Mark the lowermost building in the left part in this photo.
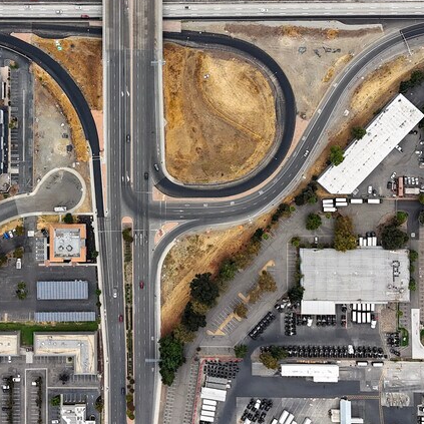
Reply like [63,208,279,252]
[61,401,95,424]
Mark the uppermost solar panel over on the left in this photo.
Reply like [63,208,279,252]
[37,281,88,300]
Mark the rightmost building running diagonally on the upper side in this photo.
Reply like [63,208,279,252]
[314,93,422,194]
